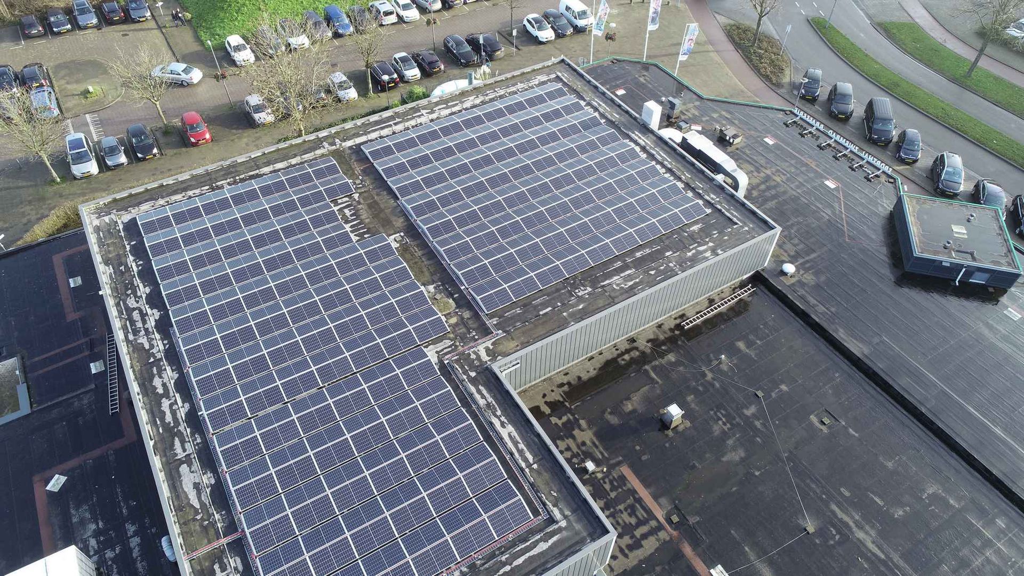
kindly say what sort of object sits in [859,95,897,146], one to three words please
vehicle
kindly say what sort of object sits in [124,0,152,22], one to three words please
car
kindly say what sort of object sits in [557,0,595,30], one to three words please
vehicle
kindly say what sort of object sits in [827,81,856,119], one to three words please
car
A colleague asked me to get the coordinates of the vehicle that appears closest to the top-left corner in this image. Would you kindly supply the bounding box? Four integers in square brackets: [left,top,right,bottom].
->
[18,11,46,35]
